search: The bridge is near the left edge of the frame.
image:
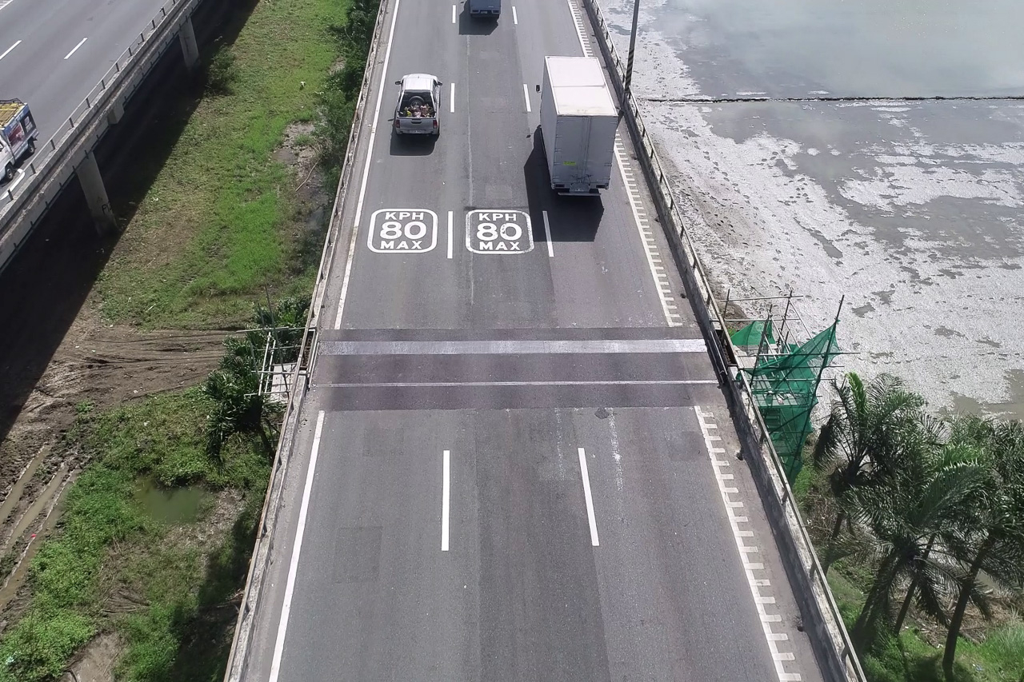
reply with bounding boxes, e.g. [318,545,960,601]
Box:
[0,0,214,283]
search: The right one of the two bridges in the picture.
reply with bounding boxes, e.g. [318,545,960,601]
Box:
[219,0,866,682]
